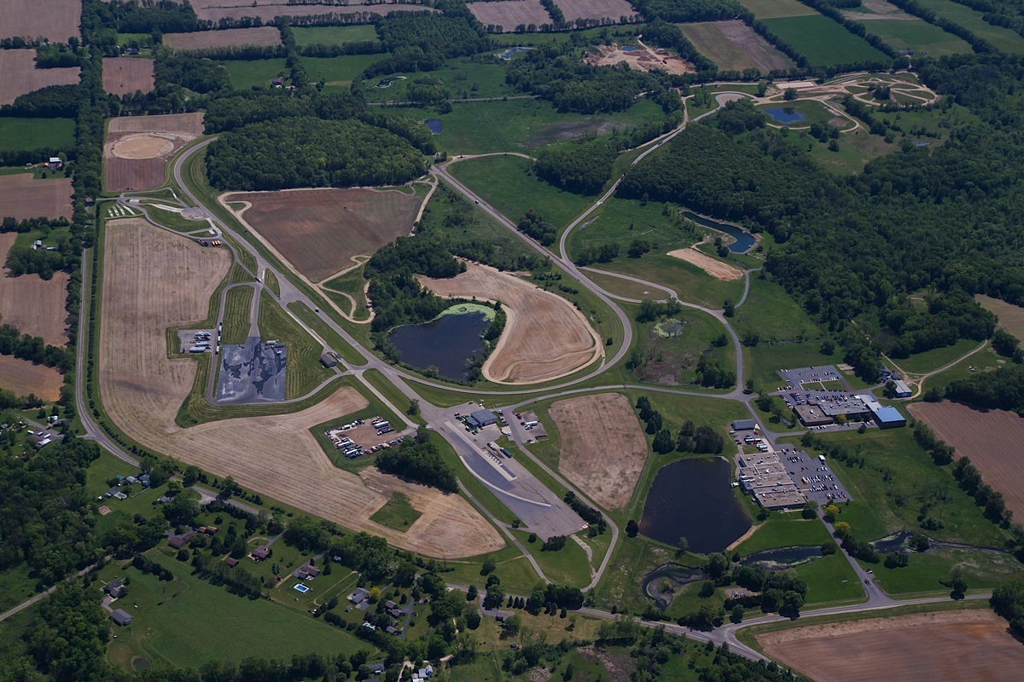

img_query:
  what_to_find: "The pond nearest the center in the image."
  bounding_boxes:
[390,310,489,380]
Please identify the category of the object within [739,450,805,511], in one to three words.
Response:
building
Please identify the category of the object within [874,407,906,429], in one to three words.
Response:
building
